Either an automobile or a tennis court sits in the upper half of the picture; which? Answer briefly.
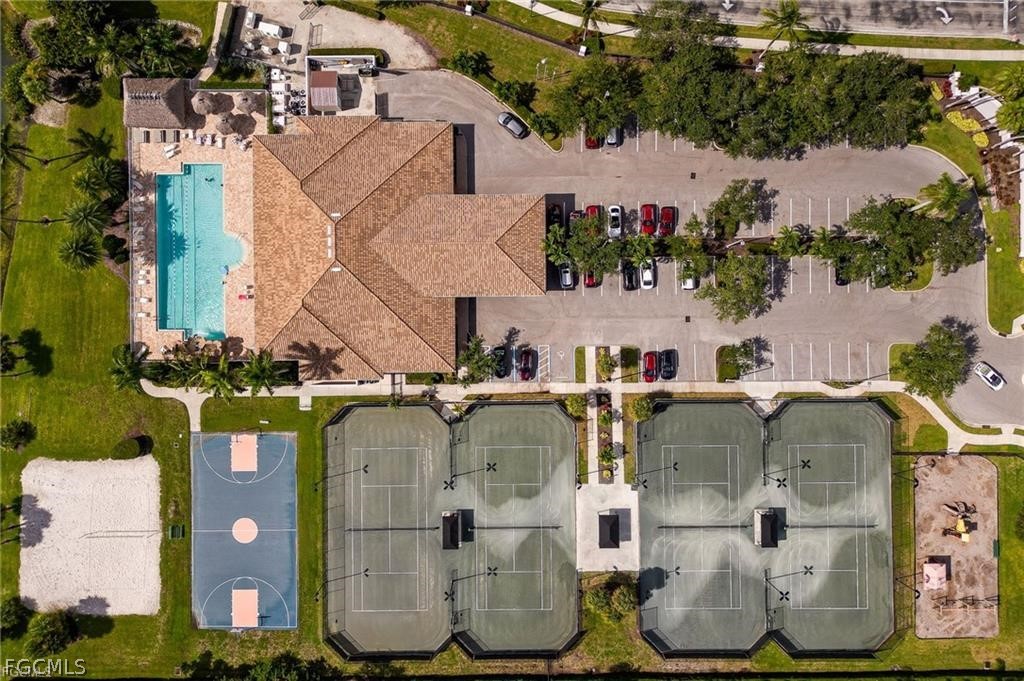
automobile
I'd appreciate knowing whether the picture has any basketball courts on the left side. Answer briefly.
Yes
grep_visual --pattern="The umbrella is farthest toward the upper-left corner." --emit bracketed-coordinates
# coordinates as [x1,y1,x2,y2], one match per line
[188,89,217,117]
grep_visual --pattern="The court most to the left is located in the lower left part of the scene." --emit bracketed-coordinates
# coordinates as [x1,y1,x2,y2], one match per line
[18,455,160,614]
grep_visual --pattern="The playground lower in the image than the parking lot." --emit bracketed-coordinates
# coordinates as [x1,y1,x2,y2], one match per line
[915,456,999,640]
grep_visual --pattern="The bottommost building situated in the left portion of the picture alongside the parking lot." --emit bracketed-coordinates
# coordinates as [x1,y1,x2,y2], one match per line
[250,115,545,384]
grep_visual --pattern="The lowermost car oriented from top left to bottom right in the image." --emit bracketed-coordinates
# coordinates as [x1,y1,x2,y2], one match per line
[975,362,1009,391]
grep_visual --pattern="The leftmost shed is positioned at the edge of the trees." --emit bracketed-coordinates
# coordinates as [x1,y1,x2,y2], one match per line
[119,75,189,132]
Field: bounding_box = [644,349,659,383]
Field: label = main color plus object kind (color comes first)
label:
red car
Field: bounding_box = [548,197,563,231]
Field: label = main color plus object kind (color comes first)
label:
black car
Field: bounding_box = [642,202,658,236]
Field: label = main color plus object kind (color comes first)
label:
red car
